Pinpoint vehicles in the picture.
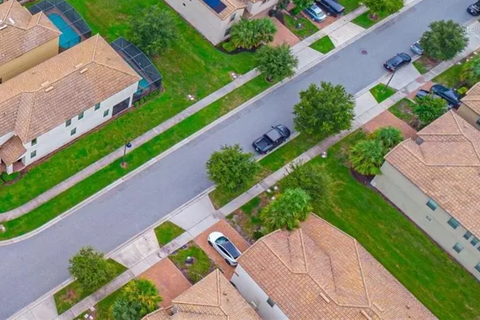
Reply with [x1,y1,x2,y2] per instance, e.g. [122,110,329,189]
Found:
[205,227,245,268]
[406,39,432,61]
[312,0,344,19]
[405,81,447,108]
[296,0,330,27]
[427,81,466,111]
[247,123,292,157]
[464,0,480,20]
[381,50,412,75]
